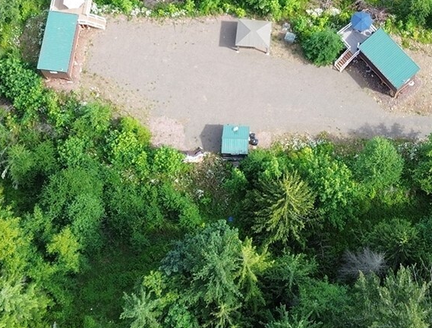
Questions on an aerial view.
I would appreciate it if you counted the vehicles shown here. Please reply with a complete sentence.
No vehicles are visible.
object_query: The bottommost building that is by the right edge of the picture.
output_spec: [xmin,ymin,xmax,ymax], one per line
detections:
[356,27,421,97]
